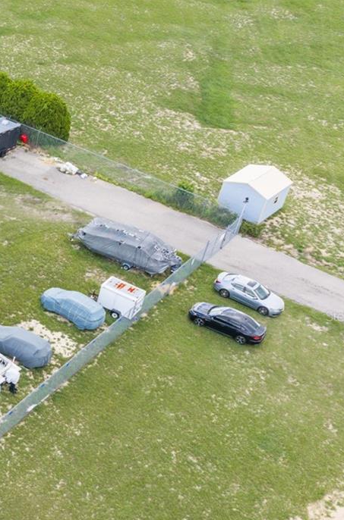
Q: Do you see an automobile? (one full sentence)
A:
Yes, looking at the shot, I can spot an automobile.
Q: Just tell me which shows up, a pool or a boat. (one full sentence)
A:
I can see a boat in this picture.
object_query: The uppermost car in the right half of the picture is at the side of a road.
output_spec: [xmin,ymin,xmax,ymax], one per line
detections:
[214,271,288,317]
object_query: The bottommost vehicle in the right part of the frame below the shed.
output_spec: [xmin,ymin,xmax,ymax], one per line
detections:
[189,301,270,345]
